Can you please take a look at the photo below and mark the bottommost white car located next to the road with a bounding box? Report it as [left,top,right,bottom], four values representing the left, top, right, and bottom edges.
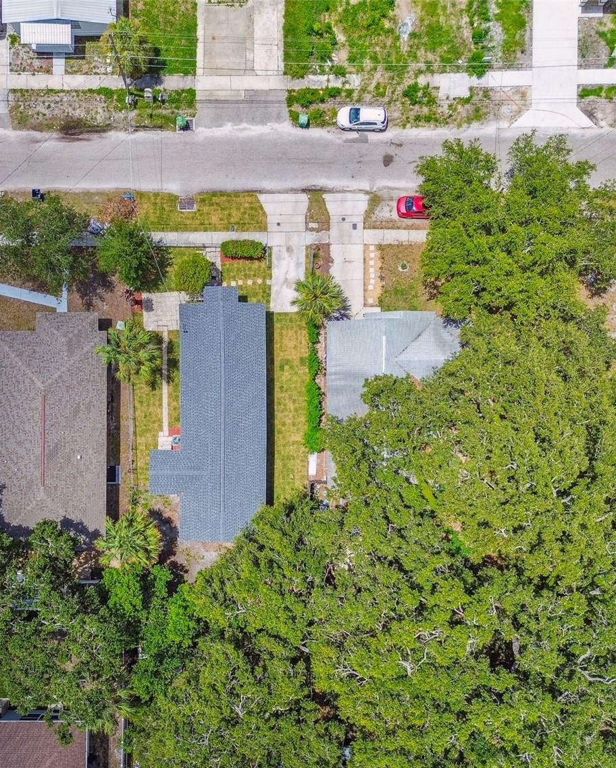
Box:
[339,107,387,134]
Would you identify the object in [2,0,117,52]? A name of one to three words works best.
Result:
house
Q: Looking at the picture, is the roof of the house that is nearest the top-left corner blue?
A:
No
